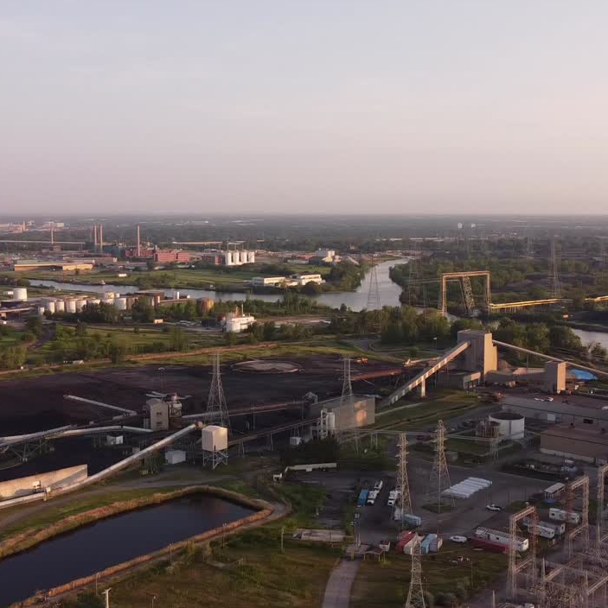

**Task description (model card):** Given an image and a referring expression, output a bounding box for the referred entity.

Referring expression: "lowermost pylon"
[401,532,431,608]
